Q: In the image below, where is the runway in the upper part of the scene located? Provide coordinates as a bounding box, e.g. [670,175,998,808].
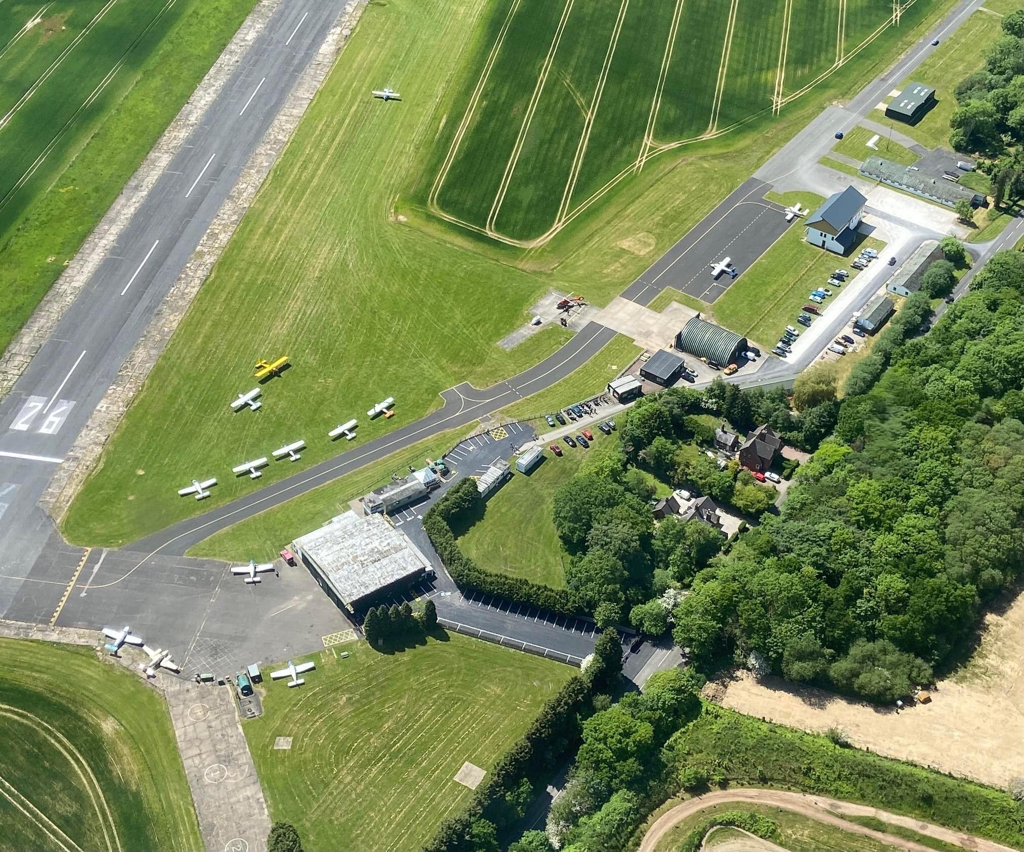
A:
[0,0,348,512]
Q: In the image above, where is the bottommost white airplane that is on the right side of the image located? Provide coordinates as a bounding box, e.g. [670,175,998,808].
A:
[710,255,737,279]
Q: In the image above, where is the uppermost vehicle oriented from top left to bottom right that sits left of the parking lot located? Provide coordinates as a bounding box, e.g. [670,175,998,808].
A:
[279,547,296,565]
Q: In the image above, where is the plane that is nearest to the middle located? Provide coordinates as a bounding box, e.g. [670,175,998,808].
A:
[366,398,396,418]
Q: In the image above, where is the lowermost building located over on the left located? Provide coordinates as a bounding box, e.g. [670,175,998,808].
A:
[292,506,438,621]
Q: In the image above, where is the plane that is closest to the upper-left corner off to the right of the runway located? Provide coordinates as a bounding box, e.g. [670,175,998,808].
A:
[372,88,402,102]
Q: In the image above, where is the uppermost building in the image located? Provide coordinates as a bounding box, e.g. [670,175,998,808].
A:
[884,83,935,125]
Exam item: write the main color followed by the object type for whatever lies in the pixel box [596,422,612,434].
gray vehicle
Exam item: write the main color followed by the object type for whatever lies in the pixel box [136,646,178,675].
white airplane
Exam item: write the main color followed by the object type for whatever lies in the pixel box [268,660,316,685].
white airplane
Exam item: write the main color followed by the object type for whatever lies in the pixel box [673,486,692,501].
white vehicle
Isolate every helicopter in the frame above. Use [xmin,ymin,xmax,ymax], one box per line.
[552,292,584,309]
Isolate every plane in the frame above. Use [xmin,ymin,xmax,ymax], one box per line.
[136,646,178,675]
[327,418,359,439]
[268,660,316,685]
[710,255,737,279]
[99,624,147,650]
[366,398,396,418]
[255,358,287,378]
[372,88,402,102]
[231,457,269,478]
[229,559,275,581]
[177,478,217,499]
[230,388,262,409]
[270,440,306,460]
